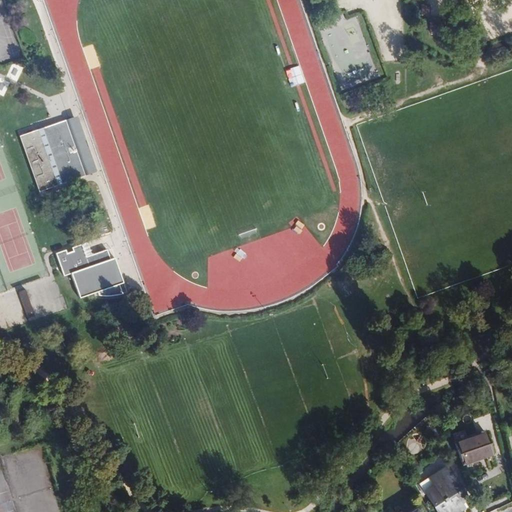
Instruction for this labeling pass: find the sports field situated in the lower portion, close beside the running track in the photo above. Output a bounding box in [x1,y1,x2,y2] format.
[82,296,358,500]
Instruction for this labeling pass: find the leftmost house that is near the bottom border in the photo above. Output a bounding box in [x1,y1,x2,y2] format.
[416,464,470,512]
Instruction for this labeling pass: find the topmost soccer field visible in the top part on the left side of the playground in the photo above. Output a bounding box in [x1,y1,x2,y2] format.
[77,0,341,286]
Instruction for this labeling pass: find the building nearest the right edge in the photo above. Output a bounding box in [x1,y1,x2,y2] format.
[454,428,495,468]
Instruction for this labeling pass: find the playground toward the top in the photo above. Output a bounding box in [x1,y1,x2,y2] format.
[321,14,380,92]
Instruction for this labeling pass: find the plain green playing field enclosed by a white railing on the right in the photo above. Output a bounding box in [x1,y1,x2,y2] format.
[357,70,512,296]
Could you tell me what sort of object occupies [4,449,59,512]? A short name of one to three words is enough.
tennis court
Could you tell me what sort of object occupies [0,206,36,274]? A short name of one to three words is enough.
tennis court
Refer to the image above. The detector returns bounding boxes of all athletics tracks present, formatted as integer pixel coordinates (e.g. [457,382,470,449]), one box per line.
[42,0,363,317]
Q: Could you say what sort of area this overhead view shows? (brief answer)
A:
sports ground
